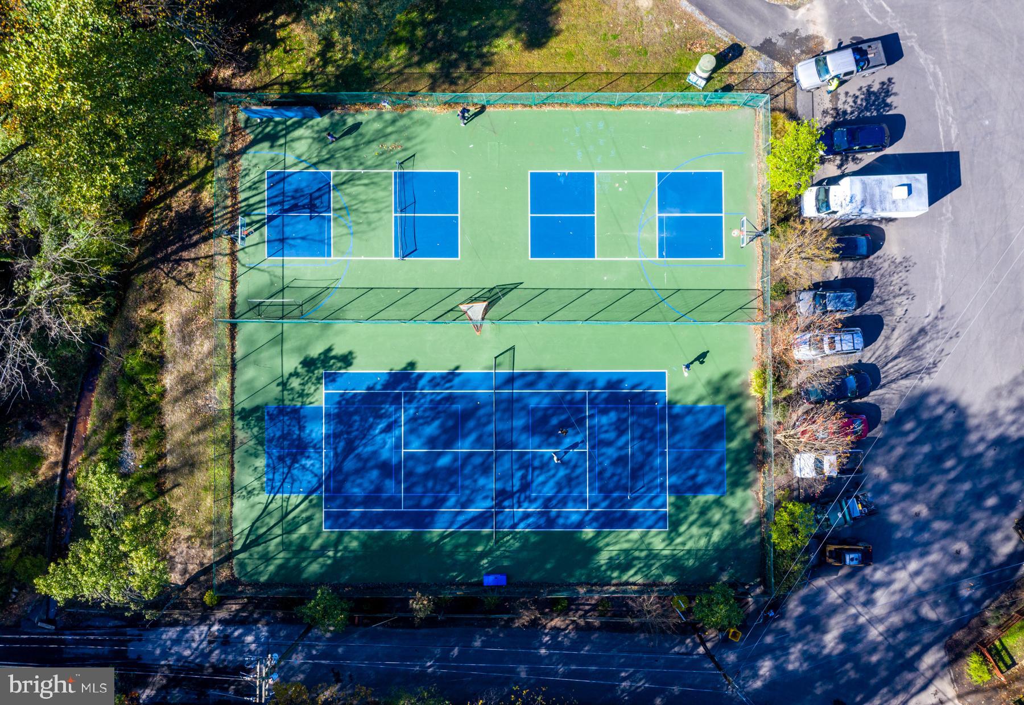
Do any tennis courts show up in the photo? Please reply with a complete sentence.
Yes, a tennis court appears in the view.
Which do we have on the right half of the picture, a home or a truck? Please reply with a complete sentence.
It is a truck that can be seen on the right half of the picture.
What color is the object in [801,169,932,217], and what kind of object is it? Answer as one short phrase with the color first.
white truck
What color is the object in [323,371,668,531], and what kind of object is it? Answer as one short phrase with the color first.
blue tennis court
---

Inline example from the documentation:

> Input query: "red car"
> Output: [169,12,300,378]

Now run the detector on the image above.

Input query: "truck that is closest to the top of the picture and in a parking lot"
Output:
[791,37,888,91]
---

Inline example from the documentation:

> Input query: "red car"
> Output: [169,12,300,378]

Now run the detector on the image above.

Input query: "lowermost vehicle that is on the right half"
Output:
[813,540,873,568]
